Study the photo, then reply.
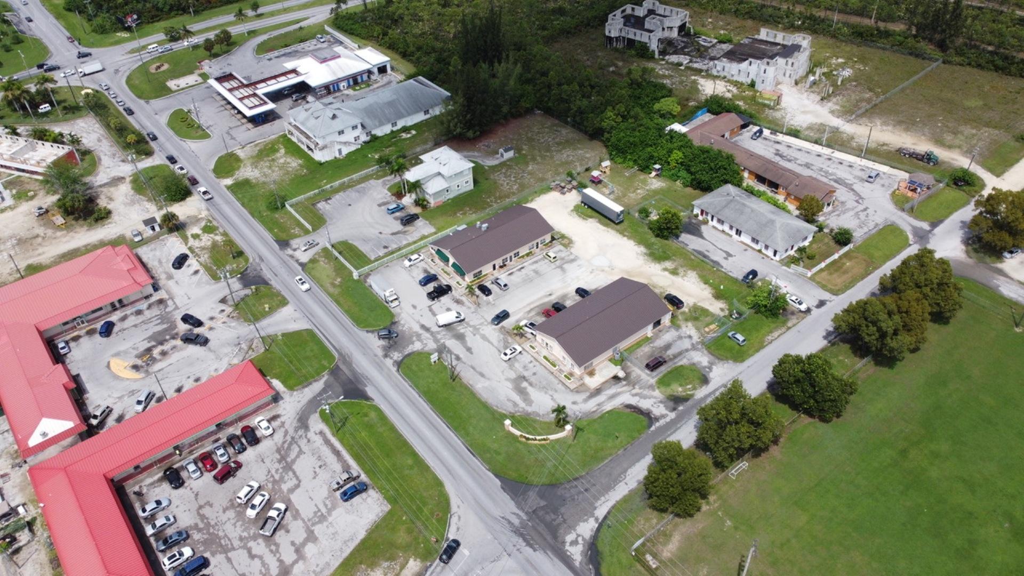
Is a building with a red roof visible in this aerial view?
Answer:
Yes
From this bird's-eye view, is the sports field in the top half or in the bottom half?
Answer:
bottom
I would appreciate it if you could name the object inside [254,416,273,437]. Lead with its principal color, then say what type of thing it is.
white car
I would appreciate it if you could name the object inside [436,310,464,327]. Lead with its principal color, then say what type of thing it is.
white vehicle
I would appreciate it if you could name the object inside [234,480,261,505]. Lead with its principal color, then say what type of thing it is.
white car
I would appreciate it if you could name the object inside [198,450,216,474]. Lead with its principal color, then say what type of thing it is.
red car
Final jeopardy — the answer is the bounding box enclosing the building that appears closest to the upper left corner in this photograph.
[0,135,79,180]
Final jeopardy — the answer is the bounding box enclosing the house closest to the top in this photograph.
[604,0,689,58]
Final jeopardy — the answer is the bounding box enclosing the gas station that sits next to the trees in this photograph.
[199,46,391,124]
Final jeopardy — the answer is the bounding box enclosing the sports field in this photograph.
[594,284,1024,576]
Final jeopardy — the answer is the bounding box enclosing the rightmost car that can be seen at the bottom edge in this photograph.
[438,537,461,566]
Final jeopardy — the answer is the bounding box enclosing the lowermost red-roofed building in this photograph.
[29,361,281,576]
